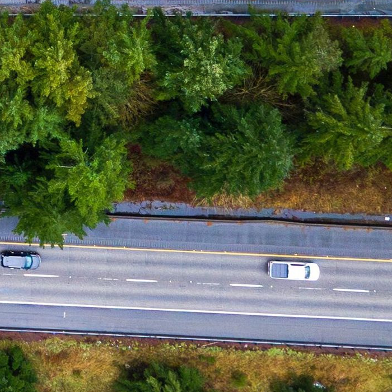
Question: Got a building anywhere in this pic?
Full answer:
No, the picture doesn't show any building.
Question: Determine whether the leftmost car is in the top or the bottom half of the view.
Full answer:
Seen from above, the leftmost car lies in the bottom half of the view.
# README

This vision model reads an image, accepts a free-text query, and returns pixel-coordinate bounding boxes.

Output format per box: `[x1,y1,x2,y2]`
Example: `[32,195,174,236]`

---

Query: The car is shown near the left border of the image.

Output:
[0,250,39,271]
